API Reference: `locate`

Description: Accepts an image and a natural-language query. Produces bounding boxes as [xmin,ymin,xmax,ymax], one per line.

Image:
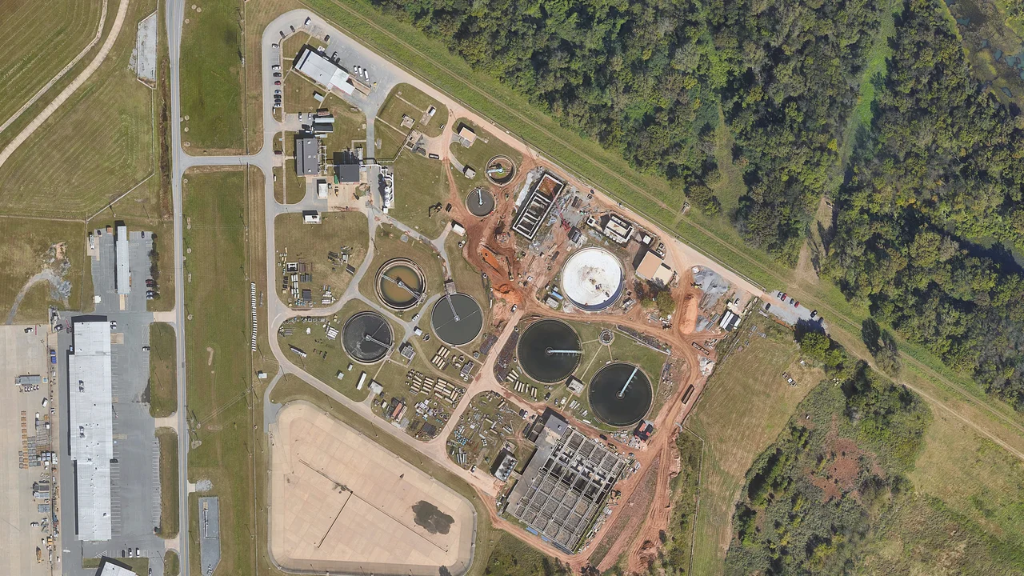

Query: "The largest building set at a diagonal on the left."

[295,48,357,98]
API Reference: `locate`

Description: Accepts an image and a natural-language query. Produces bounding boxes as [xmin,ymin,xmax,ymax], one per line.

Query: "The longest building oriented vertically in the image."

[67,321,113,540]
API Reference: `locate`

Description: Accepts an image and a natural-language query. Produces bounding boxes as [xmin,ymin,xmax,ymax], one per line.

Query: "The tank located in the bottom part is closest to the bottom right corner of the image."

[587,361,654,428]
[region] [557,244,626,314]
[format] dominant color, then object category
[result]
white storage tank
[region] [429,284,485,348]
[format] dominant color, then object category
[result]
gray storage tank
